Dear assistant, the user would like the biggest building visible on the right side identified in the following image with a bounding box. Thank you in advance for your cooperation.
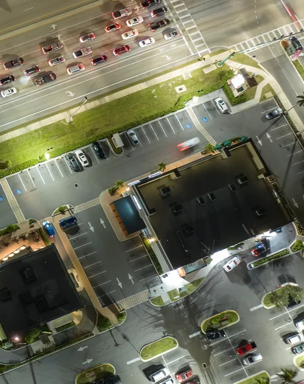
[111,139,293,276]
